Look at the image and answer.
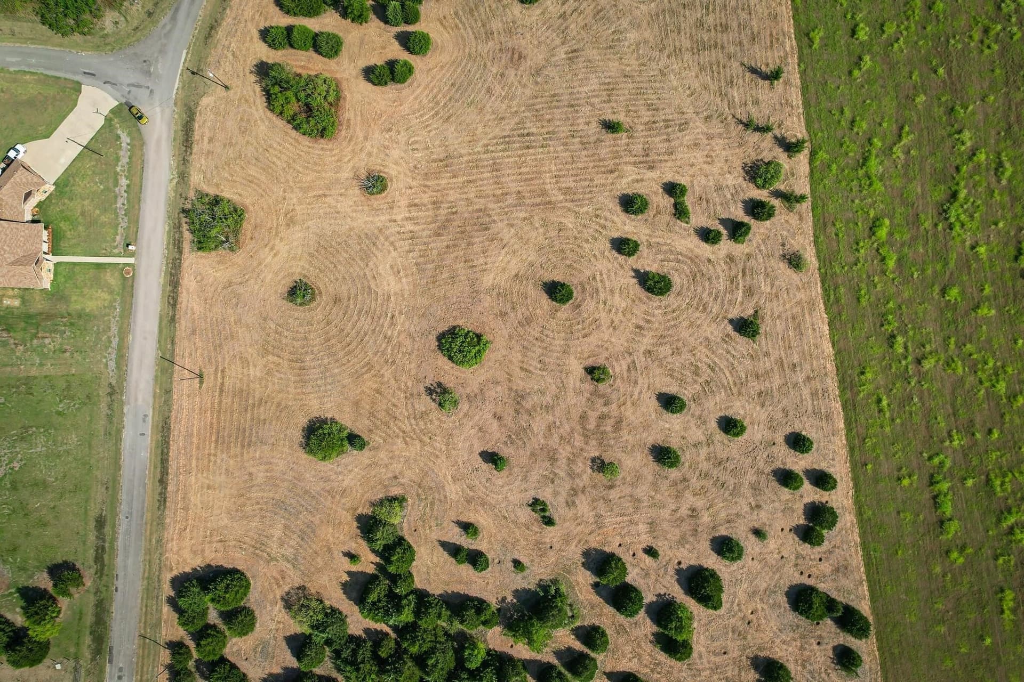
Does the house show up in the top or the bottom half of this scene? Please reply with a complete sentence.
The house is in the top half of the image.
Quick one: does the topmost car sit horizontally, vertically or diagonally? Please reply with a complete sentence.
In this picture, the topmost car is oriented diagonally.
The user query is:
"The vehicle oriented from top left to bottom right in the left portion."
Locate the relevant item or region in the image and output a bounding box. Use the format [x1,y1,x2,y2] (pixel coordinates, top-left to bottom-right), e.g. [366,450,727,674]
[127,102,150,126]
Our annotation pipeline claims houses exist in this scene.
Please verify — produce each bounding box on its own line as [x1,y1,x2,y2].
[0,157,57,289]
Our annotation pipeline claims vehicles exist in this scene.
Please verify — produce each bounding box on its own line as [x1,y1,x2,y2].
[127,102,150,126]
[0,144,30,174]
